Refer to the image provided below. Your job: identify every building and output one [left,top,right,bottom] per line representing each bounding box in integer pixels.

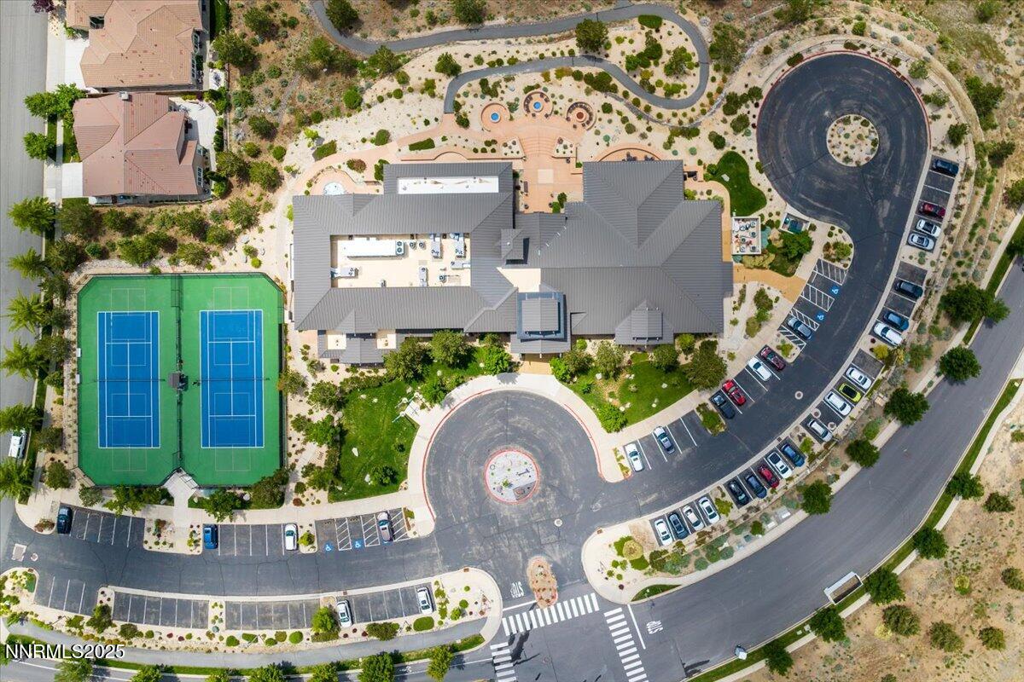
[293,160,733,363]
[67,0,207,88]
[73,90,202,196]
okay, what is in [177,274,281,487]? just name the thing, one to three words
tennis court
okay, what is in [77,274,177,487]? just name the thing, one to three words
tennis court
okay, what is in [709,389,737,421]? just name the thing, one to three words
truck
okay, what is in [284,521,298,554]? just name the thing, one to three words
vehicle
